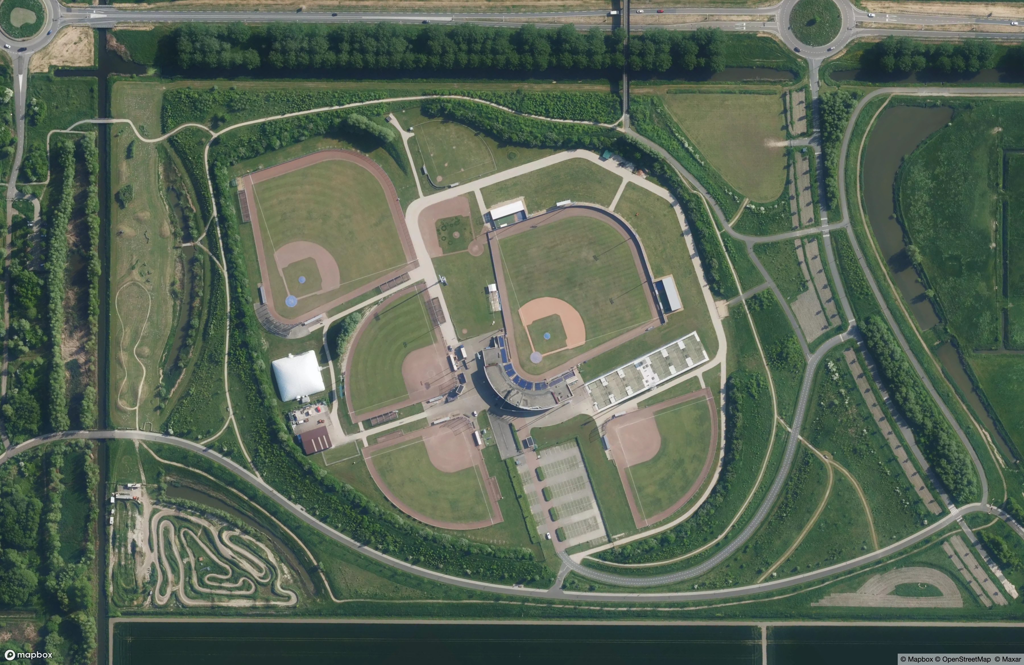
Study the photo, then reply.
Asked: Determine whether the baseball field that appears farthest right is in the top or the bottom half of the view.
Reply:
bottom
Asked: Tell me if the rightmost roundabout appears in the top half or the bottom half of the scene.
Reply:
top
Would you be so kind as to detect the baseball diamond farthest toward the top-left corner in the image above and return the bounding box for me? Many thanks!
[244,149,419,324]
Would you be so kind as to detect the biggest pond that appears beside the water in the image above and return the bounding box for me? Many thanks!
[864,105,953,330]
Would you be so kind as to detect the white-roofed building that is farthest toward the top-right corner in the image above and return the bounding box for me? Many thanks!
[654,277,681,314]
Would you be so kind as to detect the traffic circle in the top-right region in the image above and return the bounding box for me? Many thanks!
[777,0,854,58]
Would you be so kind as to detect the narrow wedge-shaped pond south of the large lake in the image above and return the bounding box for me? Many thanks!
[939,343,1013,460]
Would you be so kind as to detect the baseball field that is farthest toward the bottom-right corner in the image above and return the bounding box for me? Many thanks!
[606,387,718,529]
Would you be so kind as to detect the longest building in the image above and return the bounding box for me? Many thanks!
[585,331,709,411]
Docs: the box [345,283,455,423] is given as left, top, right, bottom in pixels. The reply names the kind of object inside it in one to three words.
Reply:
baseball field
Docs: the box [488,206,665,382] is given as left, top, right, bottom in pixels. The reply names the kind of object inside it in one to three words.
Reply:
baseball field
